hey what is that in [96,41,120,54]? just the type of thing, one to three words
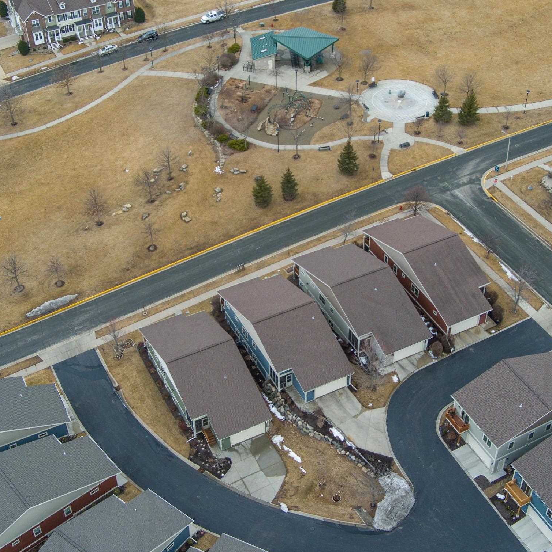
vehicle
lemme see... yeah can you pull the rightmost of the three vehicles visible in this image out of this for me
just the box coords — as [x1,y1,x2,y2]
[200,9,227,23]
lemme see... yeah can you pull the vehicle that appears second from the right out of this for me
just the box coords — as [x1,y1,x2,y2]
[137,27,159,41]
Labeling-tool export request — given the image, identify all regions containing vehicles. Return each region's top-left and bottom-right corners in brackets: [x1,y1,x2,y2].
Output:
[200,9,227,23]
[96,41,120,54]
[137,27,159,41]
